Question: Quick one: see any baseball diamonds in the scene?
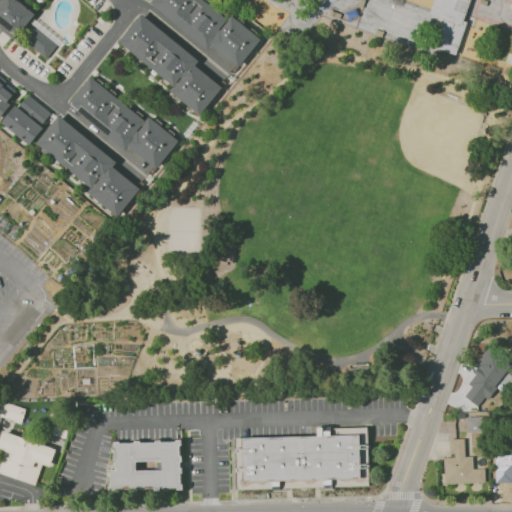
Yes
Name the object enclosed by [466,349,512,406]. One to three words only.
house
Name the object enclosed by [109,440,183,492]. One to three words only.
building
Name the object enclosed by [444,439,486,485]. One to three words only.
house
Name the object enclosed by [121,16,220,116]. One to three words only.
building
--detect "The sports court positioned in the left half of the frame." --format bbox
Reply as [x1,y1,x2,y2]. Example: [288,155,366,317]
[168,208,202,252]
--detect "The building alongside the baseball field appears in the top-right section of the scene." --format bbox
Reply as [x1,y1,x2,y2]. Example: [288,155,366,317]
[430,0,472,55]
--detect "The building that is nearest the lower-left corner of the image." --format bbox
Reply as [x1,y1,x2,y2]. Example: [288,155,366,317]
[0,432,54,487]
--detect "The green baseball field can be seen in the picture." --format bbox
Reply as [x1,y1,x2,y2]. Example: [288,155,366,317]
[206,62,483,358]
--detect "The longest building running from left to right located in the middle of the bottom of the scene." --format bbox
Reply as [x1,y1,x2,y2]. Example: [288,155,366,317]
[234,428,370,490]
